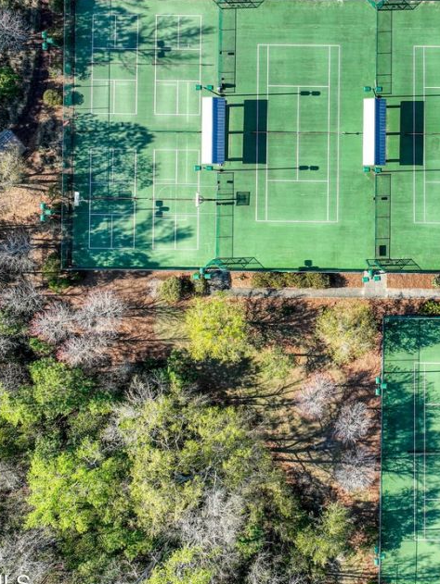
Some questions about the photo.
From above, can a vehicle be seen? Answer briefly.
No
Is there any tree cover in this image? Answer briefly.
Yes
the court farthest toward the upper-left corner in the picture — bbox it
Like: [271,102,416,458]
[73,0,146,131]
